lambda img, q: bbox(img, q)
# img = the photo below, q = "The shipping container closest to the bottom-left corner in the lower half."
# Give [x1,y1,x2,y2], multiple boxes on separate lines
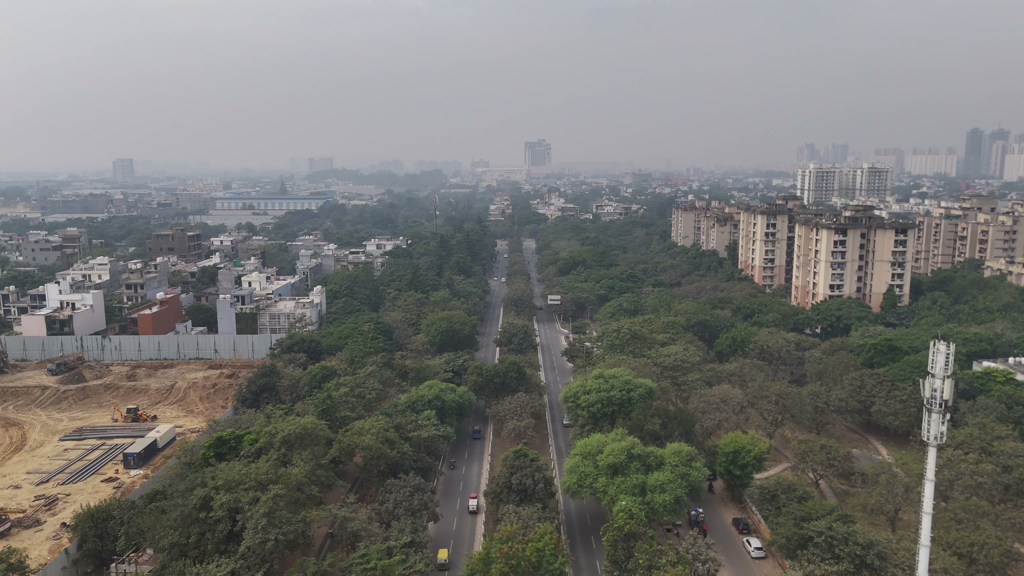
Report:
[120,437,157,468]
